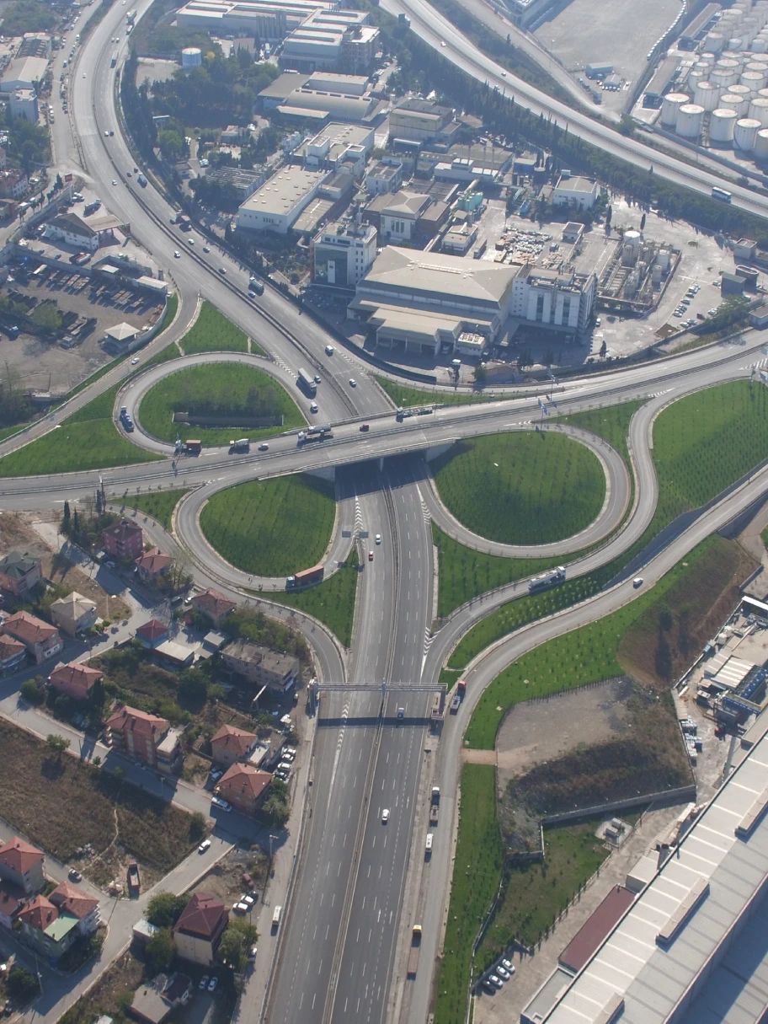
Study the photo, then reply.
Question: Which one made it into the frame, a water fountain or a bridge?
bridge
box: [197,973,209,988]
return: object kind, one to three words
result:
vehicle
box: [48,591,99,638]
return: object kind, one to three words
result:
house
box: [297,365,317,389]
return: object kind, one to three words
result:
vehicle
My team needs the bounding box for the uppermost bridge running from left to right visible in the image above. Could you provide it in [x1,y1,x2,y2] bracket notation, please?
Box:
[291,398,462,481]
